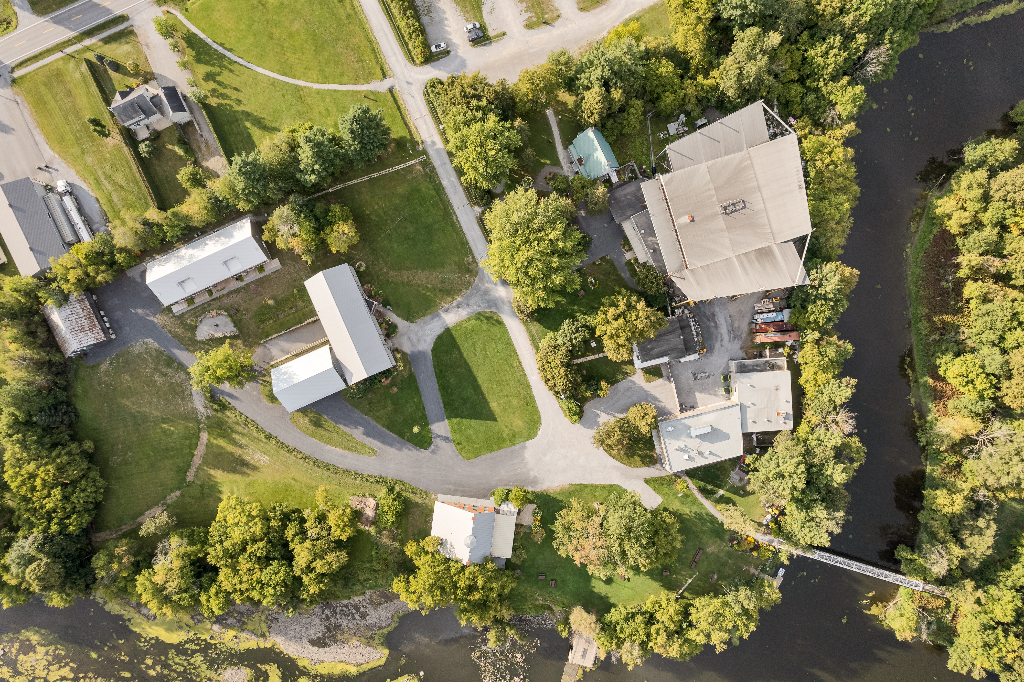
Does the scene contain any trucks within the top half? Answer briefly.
Yes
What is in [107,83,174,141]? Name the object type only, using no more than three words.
house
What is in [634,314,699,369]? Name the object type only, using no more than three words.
shed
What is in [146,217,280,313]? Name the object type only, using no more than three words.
building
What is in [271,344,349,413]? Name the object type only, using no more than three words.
barn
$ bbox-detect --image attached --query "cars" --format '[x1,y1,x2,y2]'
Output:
[466,31,484,42]
[431,42,447,52]
[463,22,480,33]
